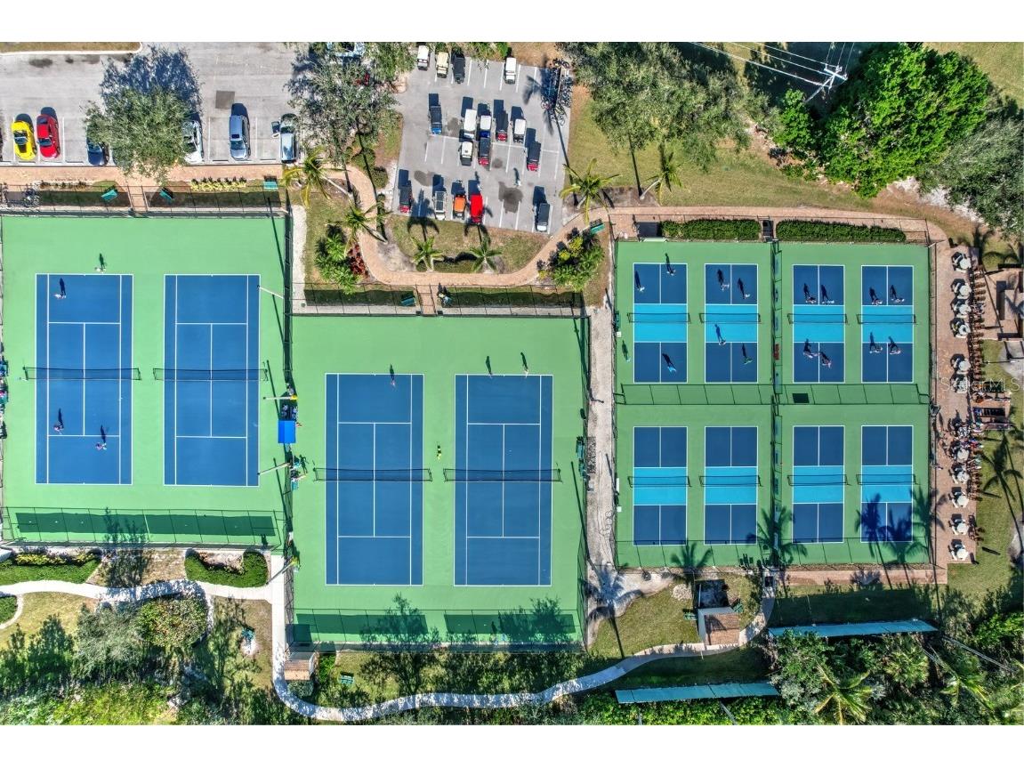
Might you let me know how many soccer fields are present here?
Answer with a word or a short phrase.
0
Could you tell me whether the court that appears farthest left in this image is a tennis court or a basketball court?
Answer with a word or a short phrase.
tennis court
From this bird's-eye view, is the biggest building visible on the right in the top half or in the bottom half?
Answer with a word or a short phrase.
bottom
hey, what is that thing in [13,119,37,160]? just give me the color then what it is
yellow car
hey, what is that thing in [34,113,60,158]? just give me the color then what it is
red car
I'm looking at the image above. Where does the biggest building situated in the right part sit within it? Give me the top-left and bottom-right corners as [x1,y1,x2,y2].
[698,608,743,649]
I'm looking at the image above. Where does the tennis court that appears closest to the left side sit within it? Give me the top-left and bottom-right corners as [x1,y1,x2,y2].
[2,216,148,542]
